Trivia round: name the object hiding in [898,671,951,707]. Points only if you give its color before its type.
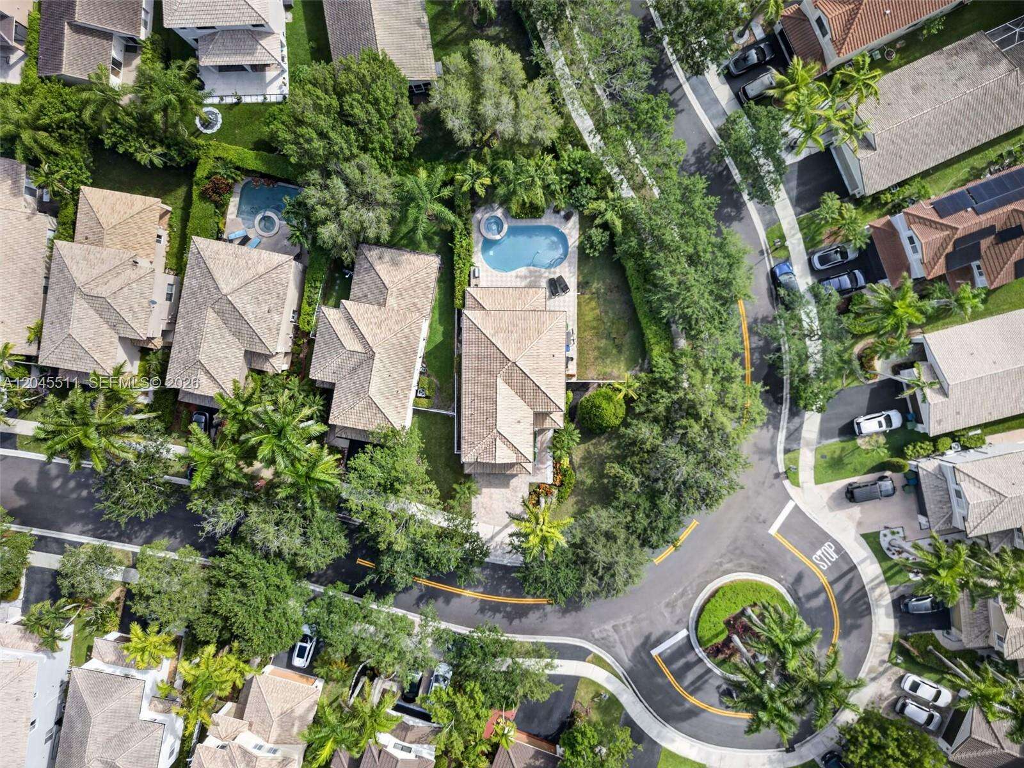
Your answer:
white car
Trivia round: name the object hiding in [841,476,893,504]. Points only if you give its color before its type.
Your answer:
gray car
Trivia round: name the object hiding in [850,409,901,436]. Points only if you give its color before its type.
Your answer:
white car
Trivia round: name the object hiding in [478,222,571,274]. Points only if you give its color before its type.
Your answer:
blue swimming pool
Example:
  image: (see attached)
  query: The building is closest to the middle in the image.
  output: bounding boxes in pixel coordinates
[461,286,567,476]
